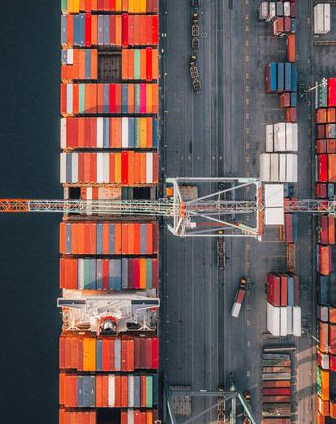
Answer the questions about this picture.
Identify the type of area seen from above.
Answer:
port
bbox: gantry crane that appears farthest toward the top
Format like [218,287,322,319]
[0,170,336,239]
